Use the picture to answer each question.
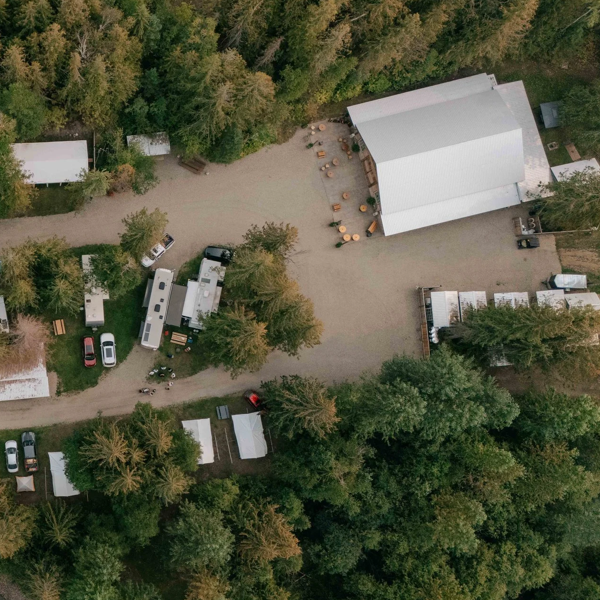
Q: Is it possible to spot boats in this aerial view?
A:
No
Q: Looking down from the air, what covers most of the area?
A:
trees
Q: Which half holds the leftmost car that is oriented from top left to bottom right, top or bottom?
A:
bottom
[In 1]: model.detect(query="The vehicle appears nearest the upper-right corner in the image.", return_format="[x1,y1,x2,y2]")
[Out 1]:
[514,237,541,250]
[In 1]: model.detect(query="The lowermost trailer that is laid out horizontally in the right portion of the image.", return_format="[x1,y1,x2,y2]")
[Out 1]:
[539,273,586,290]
